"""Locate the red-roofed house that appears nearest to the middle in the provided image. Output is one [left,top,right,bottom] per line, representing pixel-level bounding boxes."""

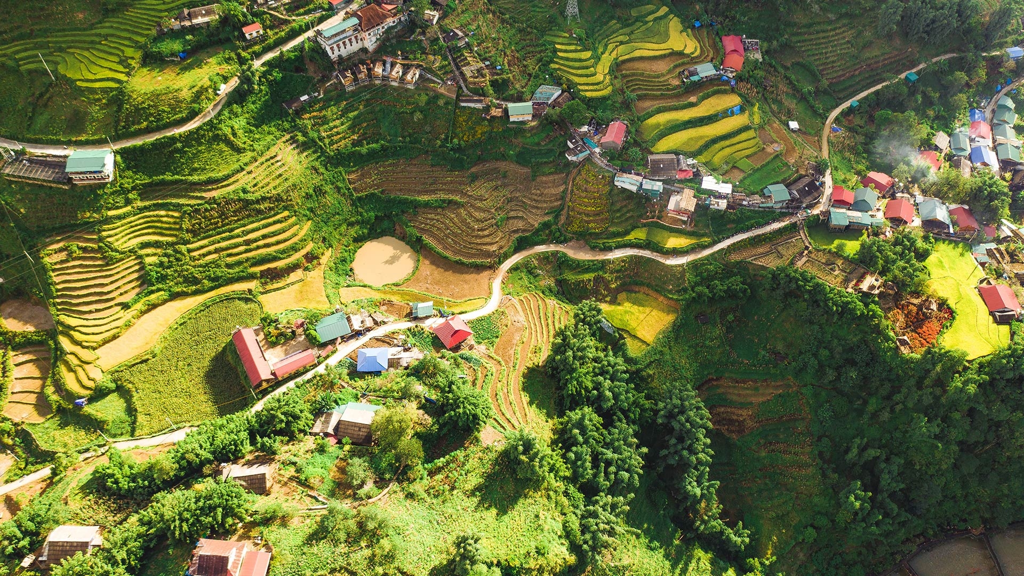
[433,316,472,353]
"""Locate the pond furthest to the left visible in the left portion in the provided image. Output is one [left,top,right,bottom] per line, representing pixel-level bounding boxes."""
[353,240,418,288]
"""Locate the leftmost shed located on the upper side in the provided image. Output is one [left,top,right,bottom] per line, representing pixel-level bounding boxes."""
[0,156,71,196]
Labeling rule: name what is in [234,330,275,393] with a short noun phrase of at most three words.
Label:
building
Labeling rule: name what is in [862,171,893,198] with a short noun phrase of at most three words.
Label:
house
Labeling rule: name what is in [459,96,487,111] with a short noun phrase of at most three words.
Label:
house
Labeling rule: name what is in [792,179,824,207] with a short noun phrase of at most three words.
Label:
building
